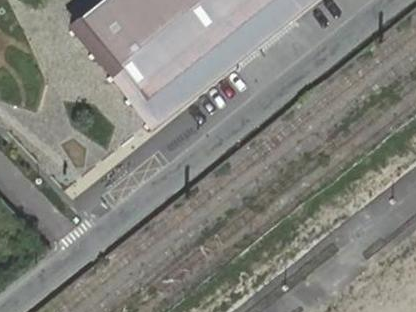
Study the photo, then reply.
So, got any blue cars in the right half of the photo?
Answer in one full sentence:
No, there's no blue car to be seen in the right half of the photo.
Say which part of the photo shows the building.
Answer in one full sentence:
The building sits in the top section of the image.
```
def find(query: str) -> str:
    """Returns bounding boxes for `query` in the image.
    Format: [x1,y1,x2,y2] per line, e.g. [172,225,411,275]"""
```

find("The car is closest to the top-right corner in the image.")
[322,0,342,20]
